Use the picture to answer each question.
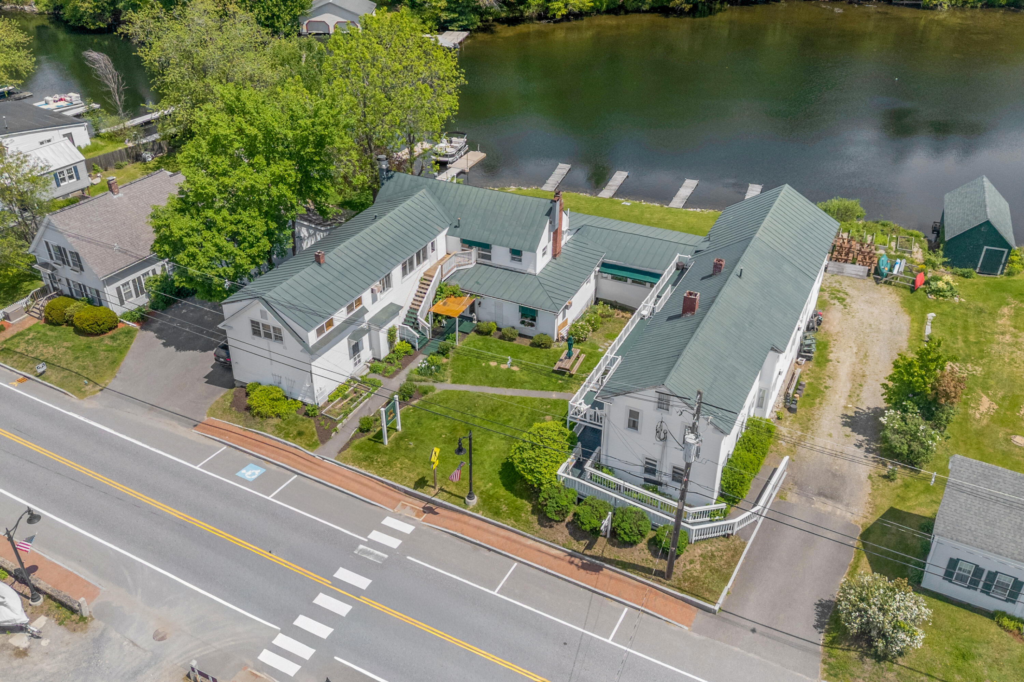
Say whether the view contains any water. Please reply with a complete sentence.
Yes, there is water in the image.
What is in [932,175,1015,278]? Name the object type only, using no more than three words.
shed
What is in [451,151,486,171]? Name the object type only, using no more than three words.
pier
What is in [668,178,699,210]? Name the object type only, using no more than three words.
pier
